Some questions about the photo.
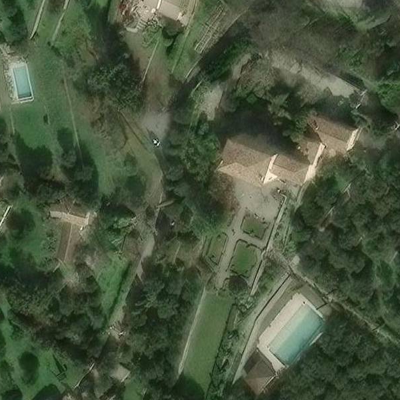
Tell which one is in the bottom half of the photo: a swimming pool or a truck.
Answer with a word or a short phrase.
swimming pool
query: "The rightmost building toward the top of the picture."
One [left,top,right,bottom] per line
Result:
[216,121,358,191]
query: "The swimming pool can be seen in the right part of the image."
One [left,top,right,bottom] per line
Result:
[247,291,326,374]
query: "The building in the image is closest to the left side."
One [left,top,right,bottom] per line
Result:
[49,211,92,259]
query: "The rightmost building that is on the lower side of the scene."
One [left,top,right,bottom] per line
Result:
[238,351,279,388]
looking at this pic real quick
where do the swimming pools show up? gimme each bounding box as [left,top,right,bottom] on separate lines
[2,48,34,102]
[247,291,326,374]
